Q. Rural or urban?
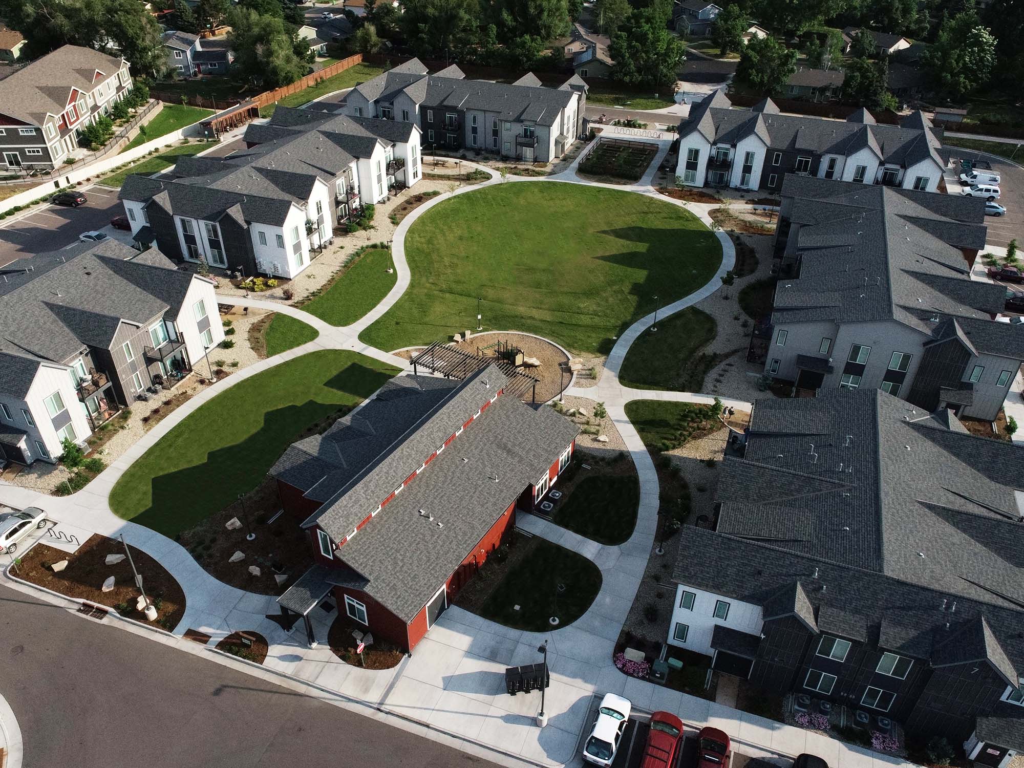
urban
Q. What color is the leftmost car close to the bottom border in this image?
white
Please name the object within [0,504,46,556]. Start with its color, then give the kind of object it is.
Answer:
white car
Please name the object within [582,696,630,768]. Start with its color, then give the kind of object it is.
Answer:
white car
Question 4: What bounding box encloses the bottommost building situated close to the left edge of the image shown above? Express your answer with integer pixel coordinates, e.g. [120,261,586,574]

[0,237,223,471]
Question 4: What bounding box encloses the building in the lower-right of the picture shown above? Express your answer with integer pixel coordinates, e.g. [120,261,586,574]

[663,388,1024,768]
